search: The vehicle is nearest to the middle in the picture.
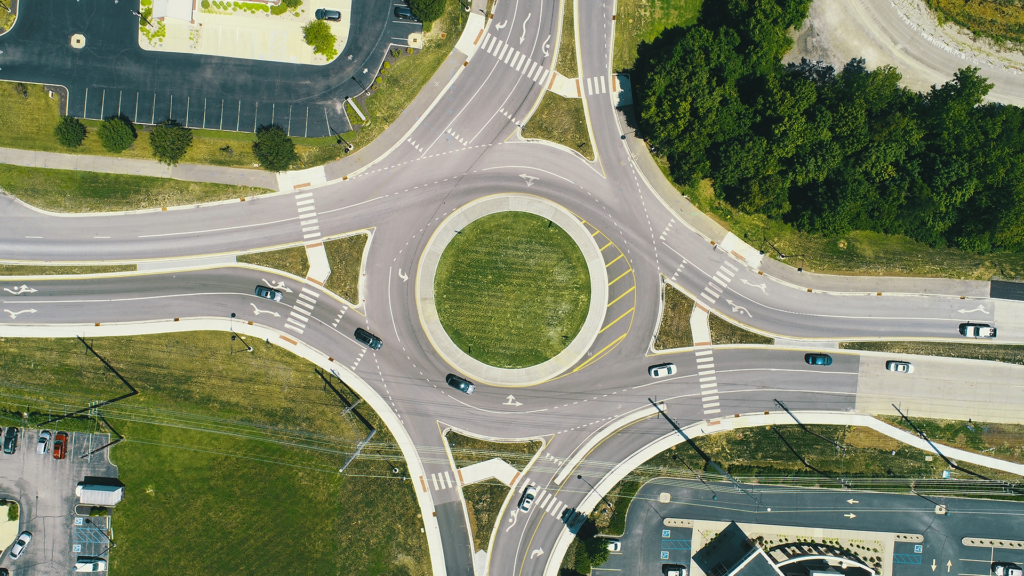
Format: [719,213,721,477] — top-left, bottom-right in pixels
[444,373,476,395]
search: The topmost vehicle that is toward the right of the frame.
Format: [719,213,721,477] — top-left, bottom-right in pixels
[961,323,1000,338]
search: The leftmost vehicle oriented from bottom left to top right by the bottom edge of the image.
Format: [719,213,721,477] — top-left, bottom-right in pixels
[8,529,35,561]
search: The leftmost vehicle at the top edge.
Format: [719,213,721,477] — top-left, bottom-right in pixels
[314,6,343,23]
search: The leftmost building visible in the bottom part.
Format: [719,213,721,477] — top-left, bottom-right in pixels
[702,536,784,576]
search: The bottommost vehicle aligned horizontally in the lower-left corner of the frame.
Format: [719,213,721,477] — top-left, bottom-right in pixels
[68,555,113,575]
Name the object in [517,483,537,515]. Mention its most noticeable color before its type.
white car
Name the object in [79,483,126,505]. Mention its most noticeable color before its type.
white truck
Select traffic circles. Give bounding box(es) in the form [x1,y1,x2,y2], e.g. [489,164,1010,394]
[362,140,663,439]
